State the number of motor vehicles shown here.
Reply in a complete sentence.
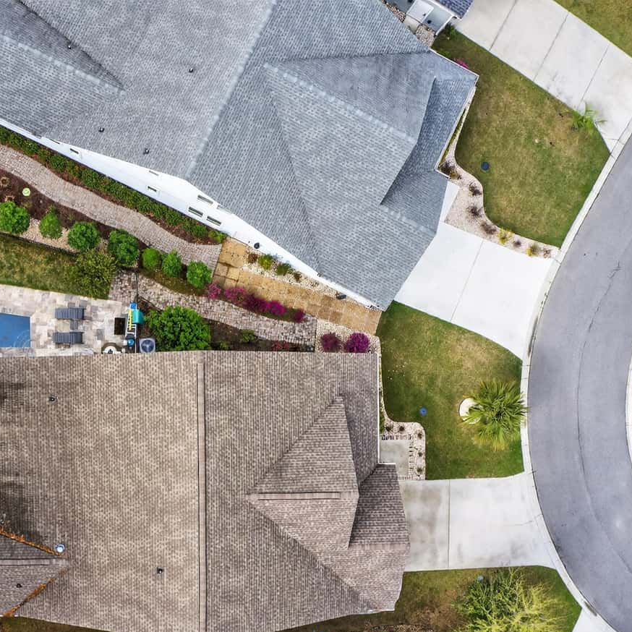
Not a single motor vehicle can be seen.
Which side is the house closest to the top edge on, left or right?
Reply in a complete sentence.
The house closest to the top edge is on the right side of the image.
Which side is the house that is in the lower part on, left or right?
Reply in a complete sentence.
The house that is in the lower part sits on the left side.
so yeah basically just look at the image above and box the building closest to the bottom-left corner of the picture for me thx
[0,353,409,632]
